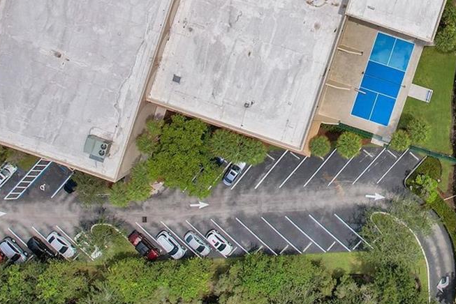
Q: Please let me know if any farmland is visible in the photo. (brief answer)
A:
No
